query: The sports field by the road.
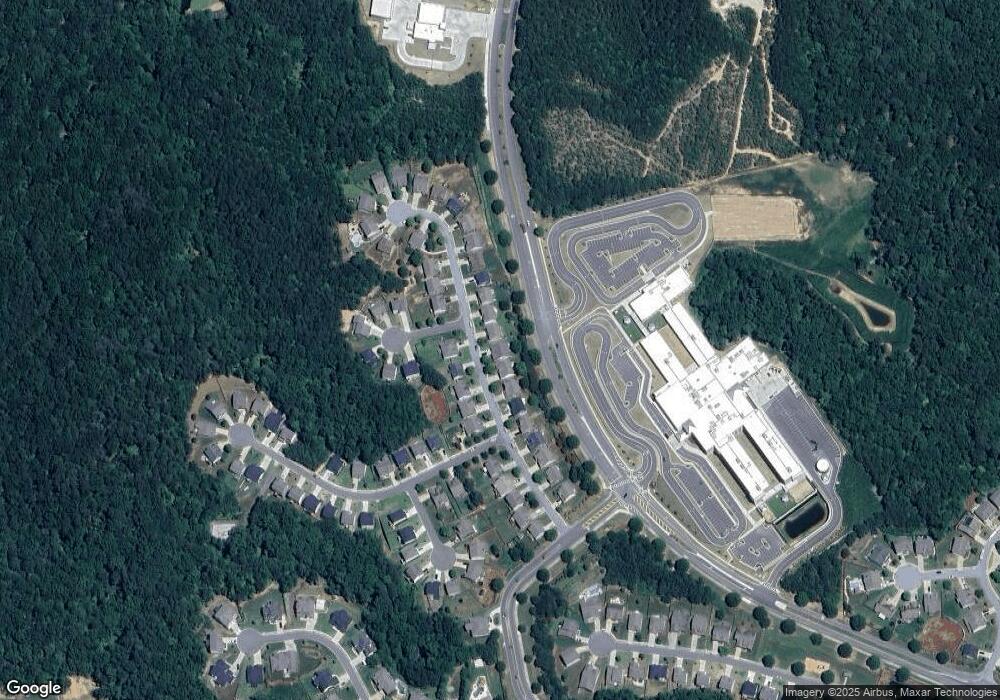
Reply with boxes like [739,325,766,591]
[711,195,798,240]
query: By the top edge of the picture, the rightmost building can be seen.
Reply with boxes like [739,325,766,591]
[414,1,446,50]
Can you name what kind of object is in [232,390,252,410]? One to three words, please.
house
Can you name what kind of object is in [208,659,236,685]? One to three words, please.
house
